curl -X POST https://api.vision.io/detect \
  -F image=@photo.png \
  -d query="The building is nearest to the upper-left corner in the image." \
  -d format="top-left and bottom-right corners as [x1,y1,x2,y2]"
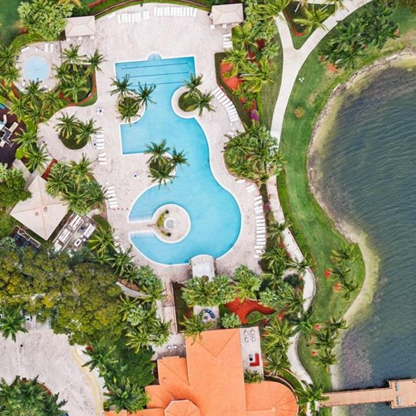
[65,16,94,38]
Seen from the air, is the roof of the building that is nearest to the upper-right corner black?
No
